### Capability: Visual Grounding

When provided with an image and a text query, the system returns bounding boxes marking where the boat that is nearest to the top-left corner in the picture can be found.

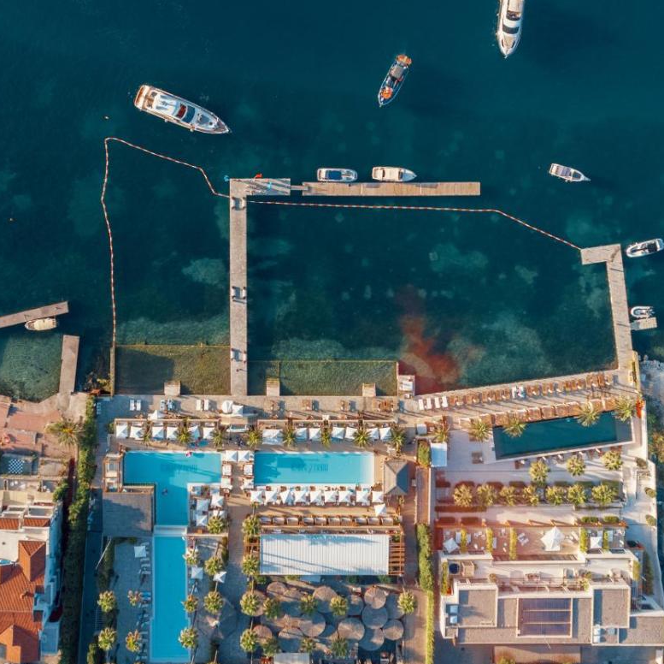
[132,85,228,133]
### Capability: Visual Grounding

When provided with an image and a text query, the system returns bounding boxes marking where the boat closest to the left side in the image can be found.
[25,318,58,331]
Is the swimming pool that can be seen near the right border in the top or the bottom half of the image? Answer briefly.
bottom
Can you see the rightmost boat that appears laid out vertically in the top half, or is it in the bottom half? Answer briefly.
top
